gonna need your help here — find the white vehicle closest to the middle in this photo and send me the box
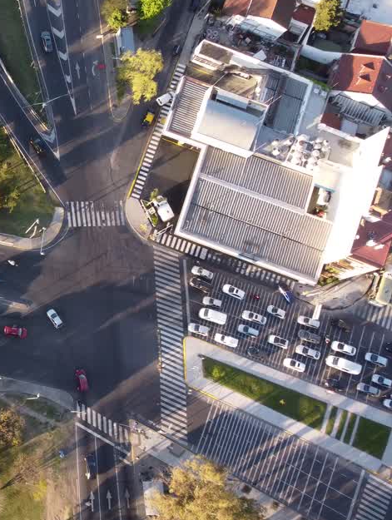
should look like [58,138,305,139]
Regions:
[190,264,215,280]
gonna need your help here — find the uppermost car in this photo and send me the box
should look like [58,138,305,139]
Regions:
[188,0,202,16]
